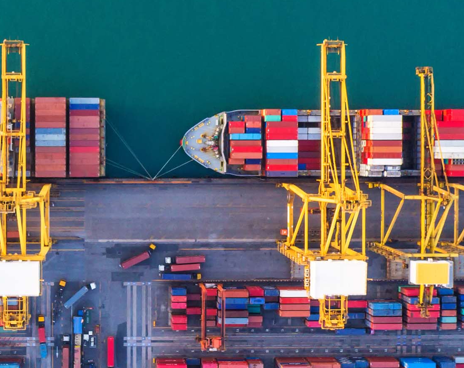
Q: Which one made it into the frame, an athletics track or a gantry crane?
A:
gantry crane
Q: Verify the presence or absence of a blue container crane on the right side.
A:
No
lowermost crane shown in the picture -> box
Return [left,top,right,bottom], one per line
[195,281,227,355]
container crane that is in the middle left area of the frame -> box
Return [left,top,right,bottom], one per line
[0,39,62,328]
